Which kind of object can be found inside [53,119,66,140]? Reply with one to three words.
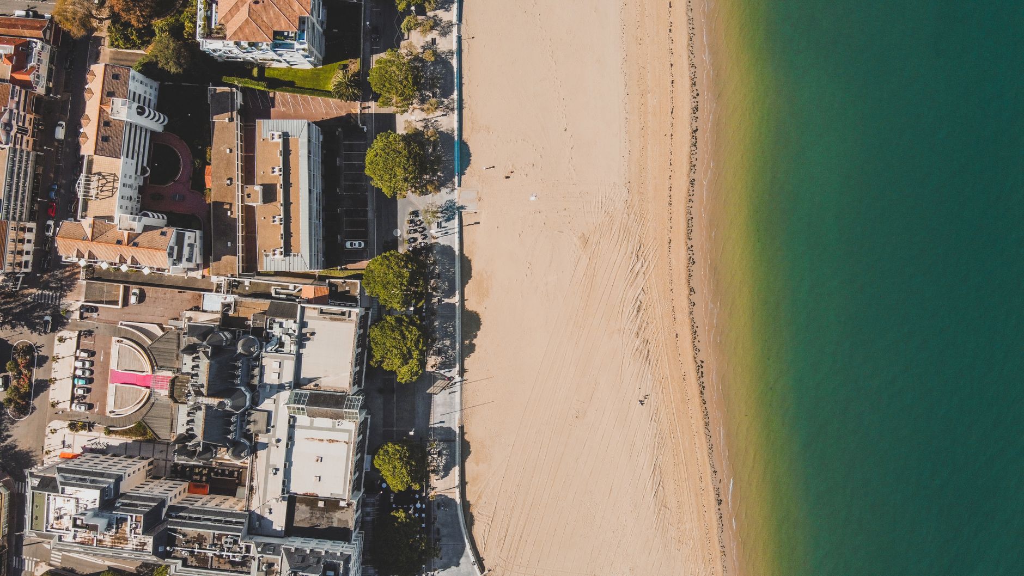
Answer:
vehicle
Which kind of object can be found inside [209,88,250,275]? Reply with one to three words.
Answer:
building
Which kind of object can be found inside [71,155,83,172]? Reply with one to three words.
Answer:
vehicle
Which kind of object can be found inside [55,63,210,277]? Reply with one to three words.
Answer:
house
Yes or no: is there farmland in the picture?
No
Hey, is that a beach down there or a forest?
beach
